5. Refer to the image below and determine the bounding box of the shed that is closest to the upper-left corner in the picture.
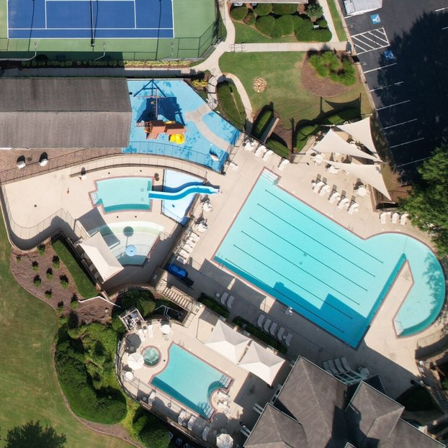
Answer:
[0,78,133,147]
